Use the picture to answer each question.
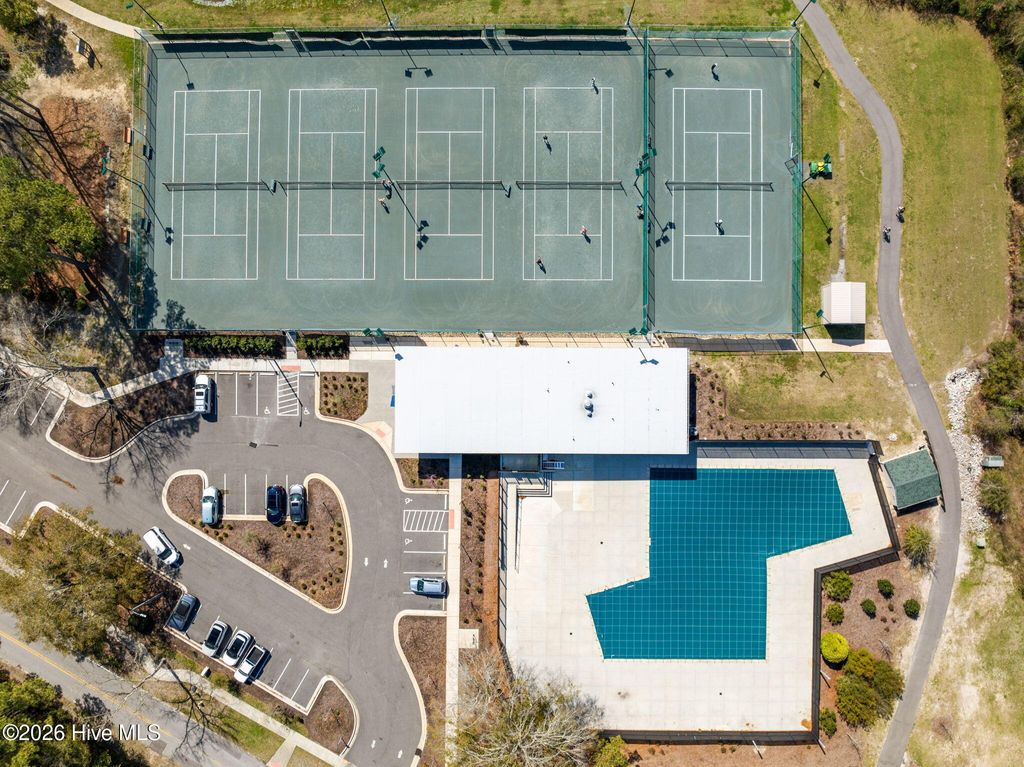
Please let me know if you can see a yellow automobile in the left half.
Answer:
No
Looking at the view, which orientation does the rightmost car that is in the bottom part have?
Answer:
from side to side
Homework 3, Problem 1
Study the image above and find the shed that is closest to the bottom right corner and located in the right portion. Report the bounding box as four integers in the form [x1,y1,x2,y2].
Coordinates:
[879,449,941,508]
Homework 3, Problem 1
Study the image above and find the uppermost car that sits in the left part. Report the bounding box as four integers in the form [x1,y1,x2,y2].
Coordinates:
[193,373,215,413]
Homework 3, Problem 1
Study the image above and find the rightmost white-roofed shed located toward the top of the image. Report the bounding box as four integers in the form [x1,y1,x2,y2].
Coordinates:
[822,282,866,324]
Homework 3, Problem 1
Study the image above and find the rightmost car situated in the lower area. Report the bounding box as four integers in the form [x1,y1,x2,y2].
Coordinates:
[410,576,447,596]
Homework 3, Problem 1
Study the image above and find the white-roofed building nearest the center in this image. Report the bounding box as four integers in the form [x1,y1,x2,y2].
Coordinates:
[394,347,689,454]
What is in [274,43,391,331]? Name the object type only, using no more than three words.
tennis court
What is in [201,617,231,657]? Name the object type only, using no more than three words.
car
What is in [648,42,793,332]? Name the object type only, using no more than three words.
tennis court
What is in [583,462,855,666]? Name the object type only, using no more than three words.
swimming pool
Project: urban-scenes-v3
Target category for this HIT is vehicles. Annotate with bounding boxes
[222,626,253,667]
[201,617,231,657]
[287,484,307,524]
[168,591,200,632]
[200,485,222,525]
[410,576,447,596]
[193,373,215,413]
[236,641,269,685]
[266,484,286,523]
[143,525,179,567]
